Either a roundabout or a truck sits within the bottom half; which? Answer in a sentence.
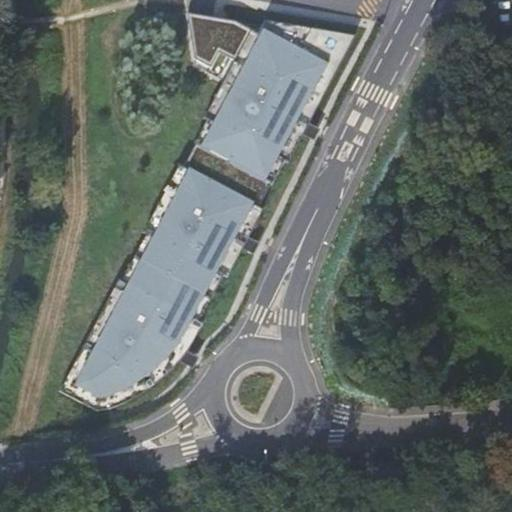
There is a roundabout within the bottom half.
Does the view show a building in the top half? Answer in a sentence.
Yes, looking in the top half, one can make out a building.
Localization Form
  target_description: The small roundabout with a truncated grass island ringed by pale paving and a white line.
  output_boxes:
[203,338,317,452]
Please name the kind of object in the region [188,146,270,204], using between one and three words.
building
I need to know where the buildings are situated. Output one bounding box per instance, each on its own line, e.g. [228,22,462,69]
[197,20,356,182]
[64,164,263,406]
